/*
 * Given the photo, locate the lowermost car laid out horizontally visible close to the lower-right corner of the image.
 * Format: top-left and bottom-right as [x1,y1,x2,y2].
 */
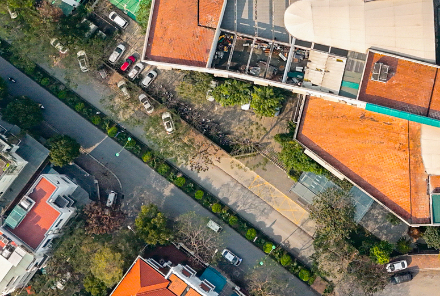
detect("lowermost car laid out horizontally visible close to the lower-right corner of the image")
[390,272,412,285]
